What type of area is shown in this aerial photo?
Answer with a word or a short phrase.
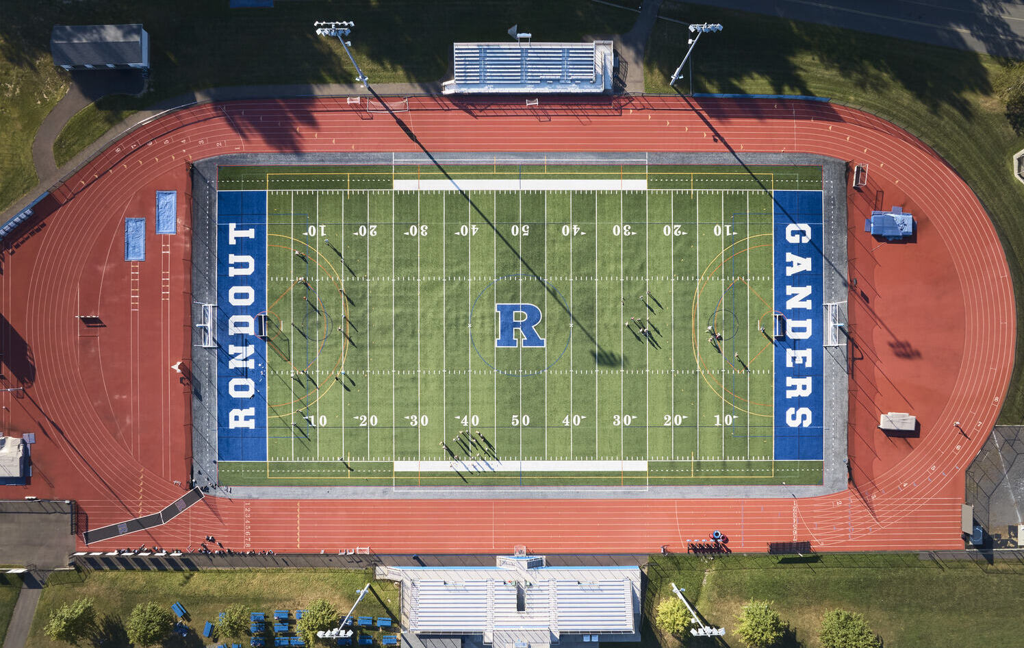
sports ground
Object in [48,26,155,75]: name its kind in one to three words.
shed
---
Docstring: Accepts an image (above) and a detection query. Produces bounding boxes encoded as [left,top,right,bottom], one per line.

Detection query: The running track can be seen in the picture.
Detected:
[0,97,1017,553]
